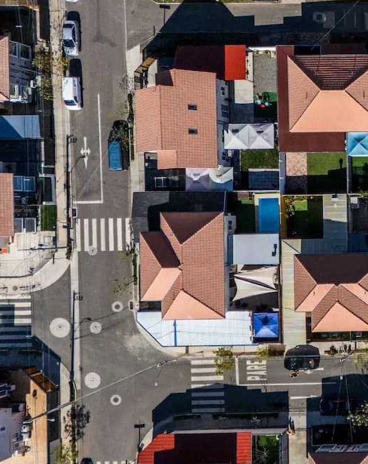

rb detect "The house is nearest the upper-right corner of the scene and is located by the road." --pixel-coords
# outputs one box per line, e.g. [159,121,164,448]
[288,54,368,133]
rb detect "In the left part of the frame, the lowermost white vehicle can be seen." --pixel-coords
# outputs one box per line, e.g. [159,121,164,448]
[62,75,85,112]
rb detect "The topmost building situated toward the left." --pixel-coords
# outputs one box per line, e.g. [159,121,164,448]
[0,34,36,103]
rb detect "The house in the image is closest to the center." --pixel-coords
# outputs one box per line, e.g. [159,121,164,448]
[138,211,241,321]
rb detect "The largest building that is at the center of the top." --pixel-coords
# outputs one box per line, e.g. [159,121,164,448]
[134,64,234,171]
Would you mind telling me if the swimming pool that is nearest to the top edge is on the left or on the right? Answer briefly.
right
